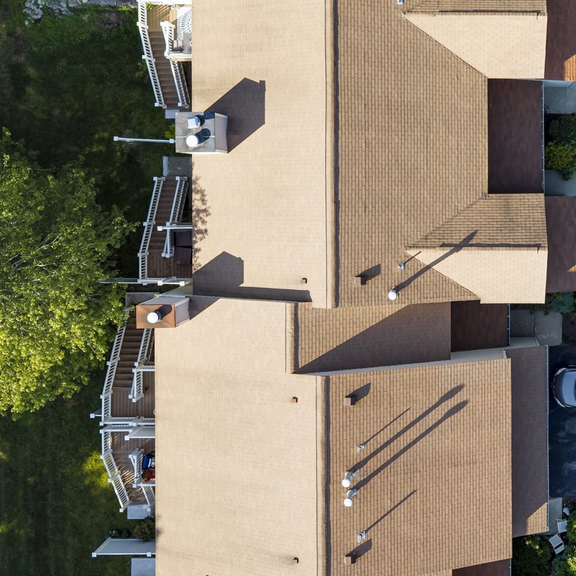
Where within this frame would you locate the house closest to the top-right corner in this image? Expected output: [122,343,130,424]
[174,0,576,307]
